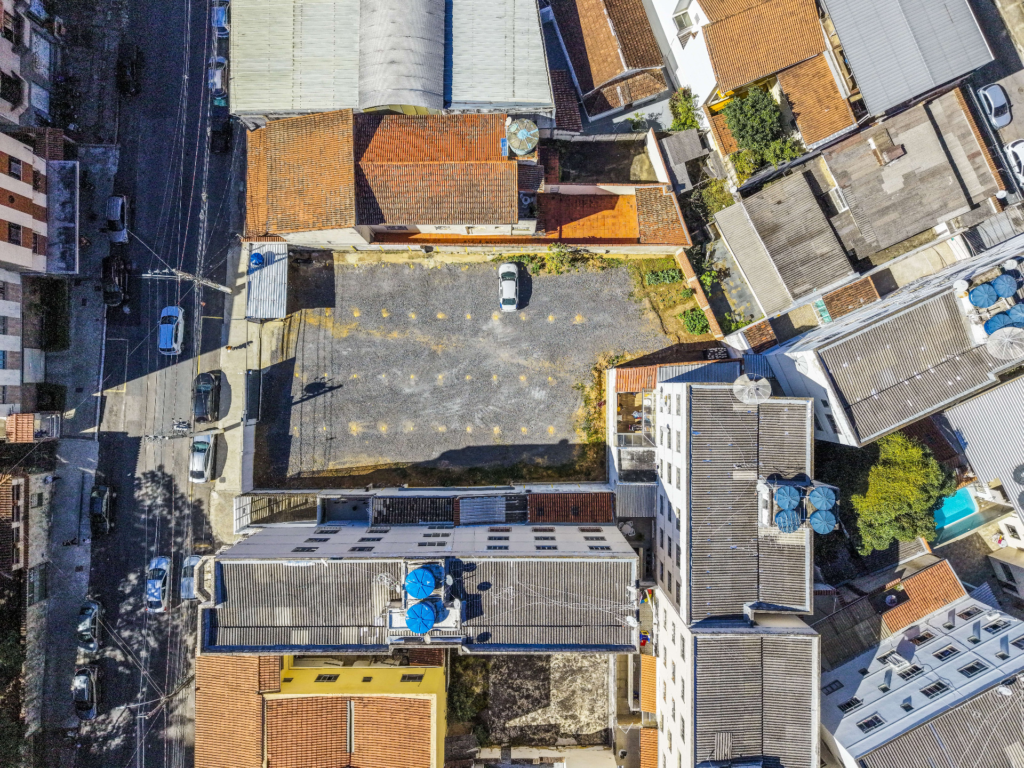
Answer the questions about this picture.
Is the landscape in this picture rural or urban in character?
urban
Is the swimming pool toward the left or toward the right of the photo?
right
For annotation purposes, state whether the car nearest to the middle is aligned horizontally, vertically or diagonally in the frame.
vertically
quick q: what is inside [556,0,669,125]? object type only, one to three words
house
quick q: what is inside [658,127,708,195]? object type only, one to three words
shed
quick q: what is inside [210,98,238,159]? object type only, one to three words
truck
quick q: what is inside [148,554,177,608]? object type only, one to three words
car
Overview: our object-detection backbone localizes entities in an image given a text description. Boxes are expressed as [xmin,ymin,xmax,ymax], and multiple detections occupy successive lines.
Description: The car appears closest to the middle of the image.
[497,263,520,312]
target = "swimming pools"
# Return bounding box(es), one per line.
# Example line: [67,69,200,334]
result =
[923,487,983,541]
